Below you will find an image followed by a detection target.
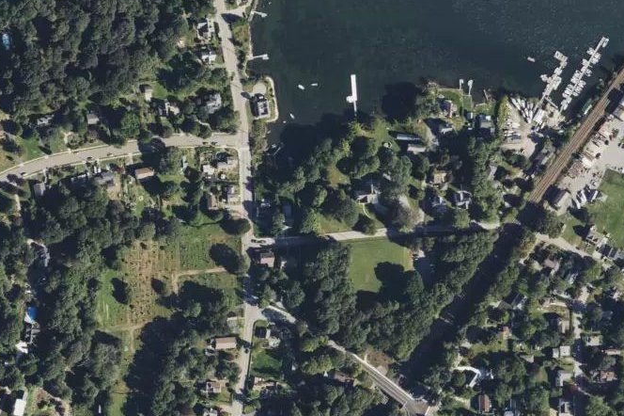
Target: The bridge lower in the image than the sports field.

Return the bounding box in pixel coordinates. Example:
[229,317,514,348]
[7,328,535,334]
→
[369,366,419,406]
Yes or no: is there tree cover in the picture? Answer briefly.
Yes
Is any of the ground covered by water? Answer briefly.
Yes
